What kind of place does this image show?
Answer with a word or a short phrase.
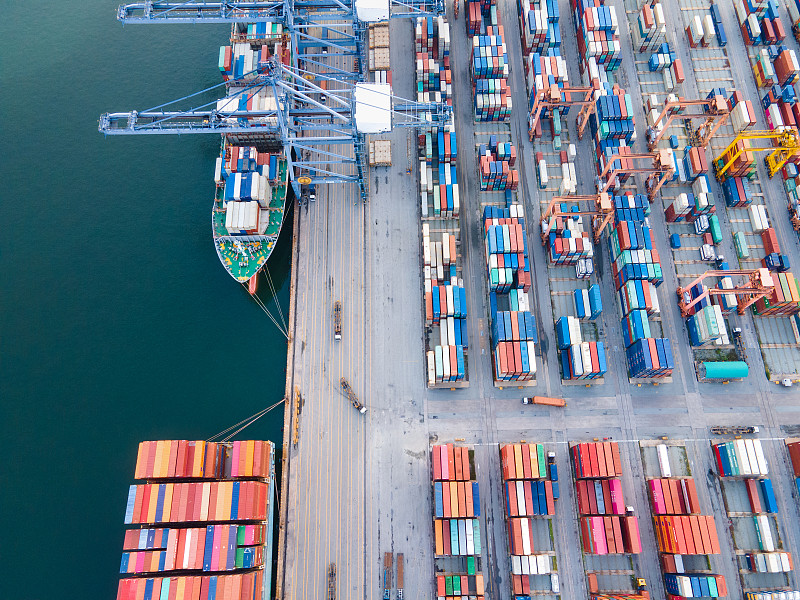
port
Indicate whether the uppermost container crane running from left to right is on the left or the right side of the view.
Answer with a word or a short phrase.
left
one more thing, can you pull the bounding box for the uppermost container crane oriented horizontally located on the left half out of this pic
[116,0,437,102]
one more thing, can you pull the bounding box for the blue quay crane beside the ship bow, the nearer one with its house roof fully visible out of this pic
[96,62,442,205]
